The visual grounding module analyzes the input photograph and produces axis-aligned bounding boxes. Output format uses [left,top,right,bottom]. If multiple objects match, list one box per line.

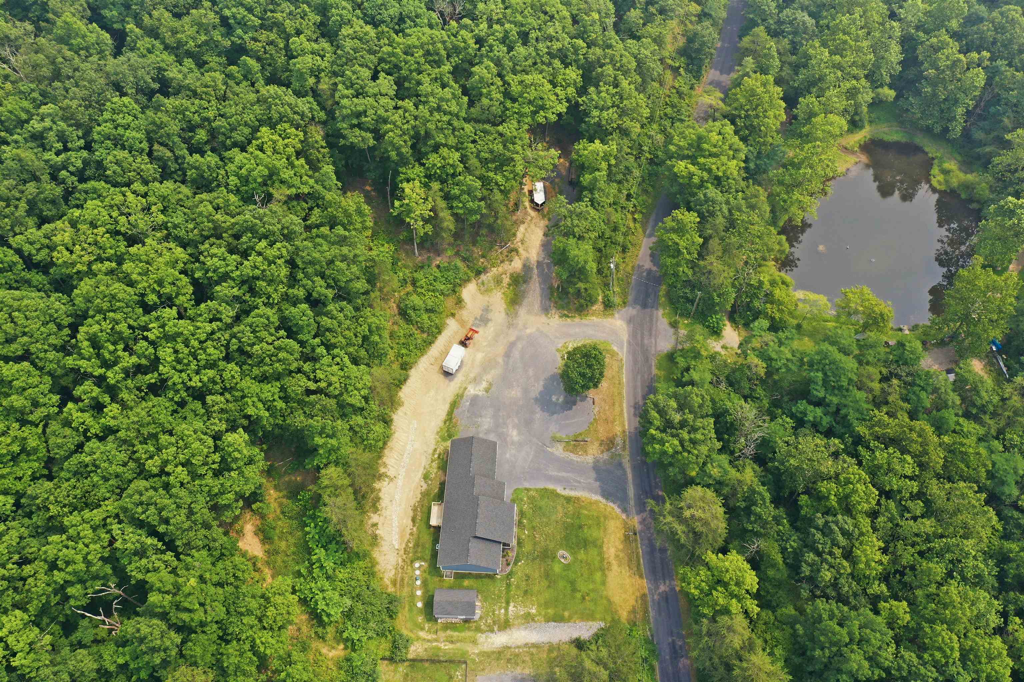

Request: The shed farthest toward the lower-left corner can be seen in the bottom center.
[433,590,482,619]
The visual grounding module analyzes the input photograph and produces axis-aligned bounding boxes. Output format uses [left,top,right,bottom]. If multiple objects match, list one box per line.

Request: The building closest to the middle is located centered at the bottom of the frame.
[431,437,515,582]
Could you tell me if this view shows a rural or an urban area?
rural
